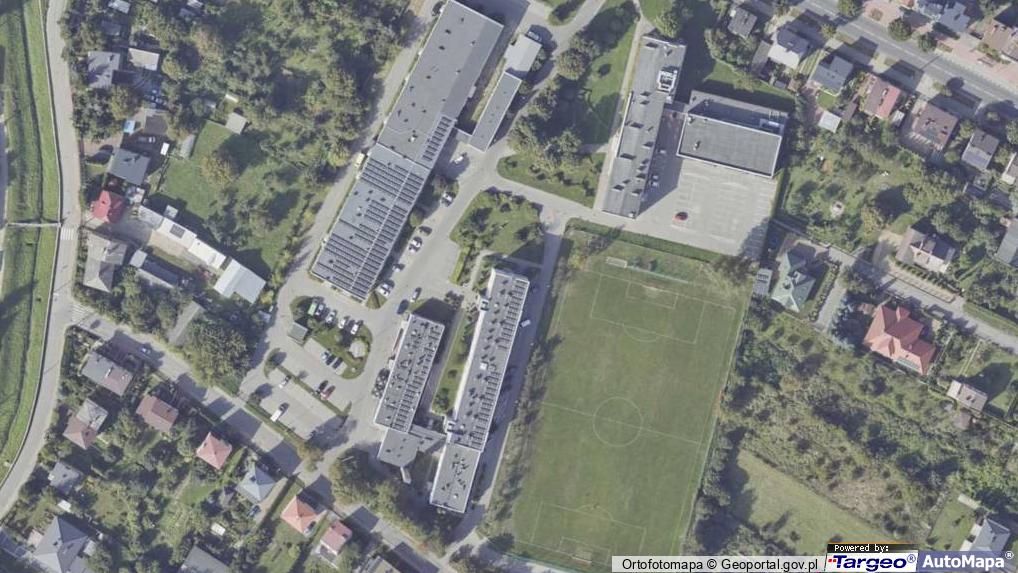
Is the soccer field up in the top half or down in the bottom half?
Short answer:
bottom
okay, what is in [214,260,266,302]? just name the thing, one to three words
barn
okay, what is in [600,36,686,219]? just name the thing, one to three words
building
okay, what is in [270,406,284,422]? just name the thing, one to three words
vehicle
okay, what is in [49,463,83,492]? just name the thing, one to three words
house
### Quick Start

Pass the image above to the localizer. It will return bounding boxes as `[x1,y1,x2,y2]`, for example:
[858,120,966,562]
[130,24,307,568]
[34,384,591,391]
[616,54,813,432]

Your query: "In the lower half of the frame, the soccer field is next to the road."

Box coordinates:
[487,222,760,573]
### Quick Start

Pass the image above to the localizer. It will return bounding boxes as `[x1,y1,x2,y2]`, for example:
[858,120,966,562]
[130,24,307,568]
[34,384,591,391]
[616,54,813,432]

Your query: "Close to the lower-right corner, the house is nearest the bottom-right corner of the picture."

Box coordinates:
[967,518,1011,563]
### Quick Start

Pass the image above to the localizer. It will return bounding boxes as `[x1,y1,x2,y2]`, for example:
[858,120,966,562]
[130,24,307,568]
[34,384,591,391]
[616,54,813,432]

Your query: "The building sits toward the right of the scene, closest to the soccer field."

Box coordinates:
[754,269,772,295]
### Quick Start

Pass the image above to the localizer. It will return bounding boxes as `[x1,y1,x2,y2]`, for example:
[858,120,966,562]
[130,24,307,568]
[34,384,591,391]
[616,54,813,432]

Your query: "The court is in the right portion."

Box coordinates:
[650,156,774,260]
